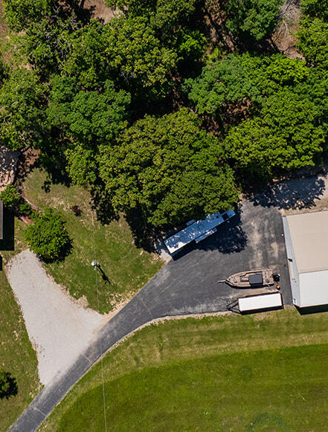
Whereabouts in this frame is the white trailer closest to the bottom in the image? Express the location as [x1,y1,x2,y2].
[223,291,284,312]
